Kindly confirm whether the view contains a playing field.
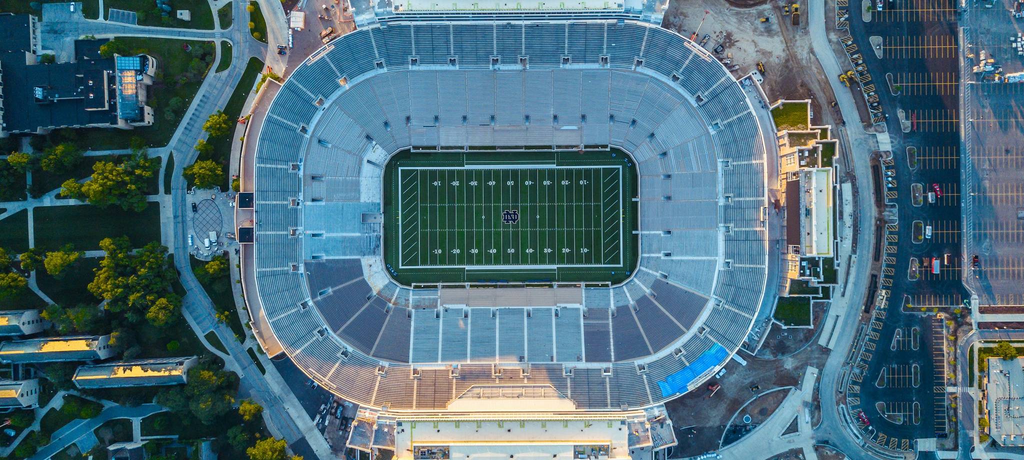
Yes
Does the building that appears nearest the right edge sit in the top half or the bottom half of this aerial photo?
bottom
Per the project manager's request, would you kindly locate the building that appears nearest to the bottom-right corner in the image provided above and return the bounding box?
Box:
[978,356,1024,446]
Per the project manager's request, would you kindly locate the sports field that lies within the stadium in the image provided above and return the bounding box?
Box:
[382,145,639,289]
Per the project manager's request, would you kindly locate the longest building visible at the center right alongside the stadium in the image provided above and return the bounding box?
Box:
[770,100,840,328]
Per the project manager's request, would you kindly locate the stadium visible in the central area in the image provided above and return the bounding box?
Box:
[232,20,781,412]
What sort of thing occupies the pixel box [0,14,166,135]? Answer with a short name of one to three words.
building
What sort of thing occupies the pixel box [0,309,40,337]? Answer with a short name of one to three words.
building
